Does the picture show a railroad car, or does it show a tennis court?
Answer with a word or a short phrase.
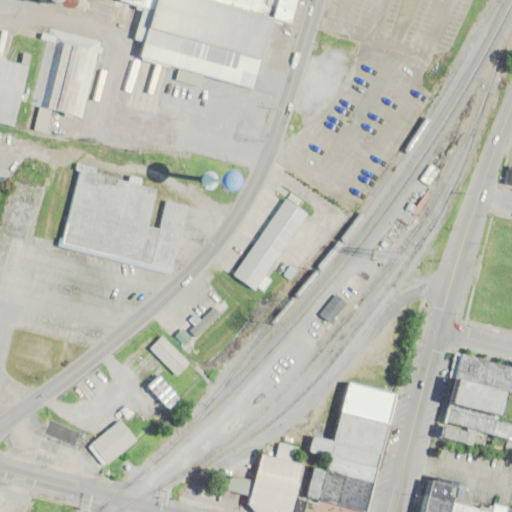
railroad car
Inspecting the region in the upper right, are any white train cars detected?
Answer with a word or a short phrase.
Yes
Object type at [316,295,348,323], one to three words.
shed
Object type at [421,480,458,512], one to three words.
building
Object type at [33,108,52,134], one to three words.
shed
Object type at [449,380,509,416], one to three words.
building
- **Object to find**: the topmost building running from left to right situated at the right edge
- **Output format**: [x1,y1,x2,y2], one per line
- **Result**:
[450,354,512,394]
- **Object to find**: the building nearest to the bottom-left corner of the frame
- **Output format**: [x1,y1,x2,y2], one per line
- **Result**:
[88,420,137,468]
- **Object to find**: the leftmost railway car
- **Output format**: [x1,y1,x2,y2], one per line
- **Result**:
[270,298,296,325]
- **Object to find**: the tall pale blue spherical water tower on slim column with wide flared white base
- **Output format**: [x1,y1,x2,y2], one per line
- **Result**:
[202,169,242,190]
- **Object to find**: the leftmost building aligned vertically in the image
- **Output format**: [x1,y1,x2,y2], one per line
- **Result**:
[0,54,32,128]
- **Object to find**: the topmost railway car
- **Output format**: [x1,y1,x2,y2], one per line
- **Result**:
[405,120,430,152]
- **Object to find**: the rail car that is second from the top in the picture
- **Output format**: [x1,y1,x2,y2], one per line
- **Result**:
[339,214,363,242]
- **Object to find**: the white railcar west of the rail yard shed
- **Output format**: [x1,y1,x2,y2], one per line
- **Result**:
[294,271,318,298]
